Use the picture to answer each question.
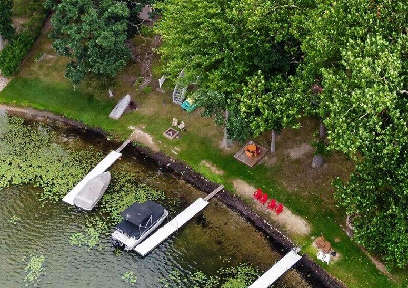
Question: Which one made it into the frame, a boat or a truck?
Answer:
boat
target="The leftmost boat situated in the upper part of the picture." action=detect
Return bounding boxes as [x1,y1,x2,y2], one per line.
[111,92,132,118]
